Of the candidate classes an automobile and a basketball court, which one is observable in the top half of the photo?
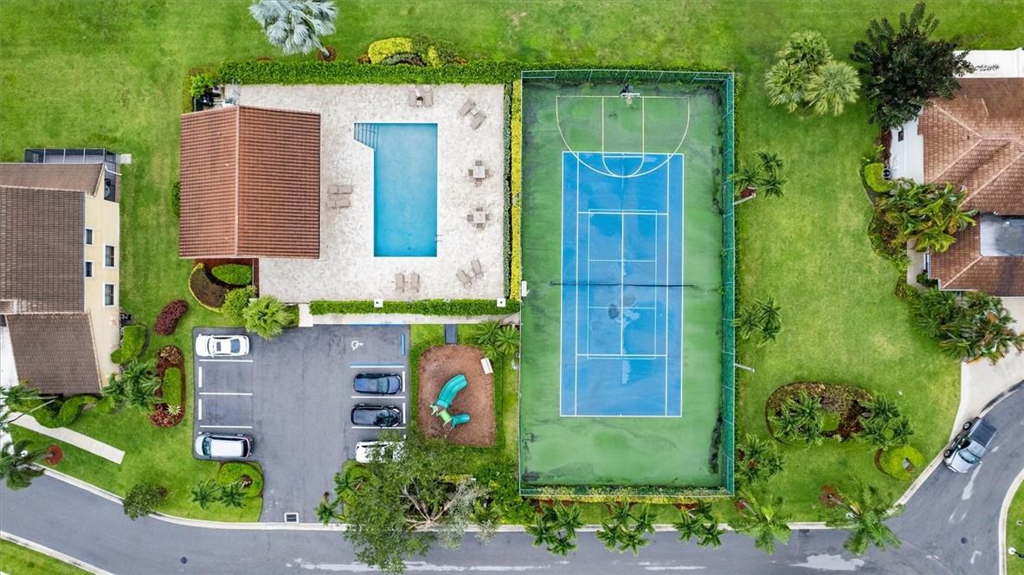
basketball court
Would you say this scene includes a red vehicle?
No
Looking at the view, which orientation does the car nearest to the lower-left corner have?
horizontally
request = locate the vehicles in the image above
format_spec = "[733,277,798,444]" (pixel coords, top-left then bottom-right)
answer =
[350,403,403,428]
[195,333,252,359]
[196,433,255,460]
[945,417,1000,475]
[354,373,404,398]
[354,438,409,462]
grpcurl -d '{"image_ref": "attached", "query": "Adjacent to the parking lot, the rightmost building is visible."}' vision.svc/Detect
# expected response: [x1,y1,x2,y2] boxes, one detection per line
[178,105,321,259]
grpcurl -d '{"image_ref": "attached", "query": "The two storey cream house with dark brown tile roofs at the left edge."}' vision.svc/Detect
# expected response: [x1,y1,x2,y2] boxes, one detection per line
[0,162,121,394]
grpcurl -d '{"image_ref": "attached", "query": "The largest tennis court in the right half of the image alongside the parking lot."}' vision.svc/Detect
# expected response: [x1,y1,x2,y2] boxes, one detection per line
[520,151,723,486]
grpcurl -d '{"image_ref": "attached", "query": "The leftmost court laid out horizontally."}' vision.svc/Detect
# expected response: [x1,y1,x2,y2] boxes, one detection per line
[521,82,723,177]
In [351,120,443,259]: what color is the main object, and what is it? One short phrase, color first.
blue swimming pool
